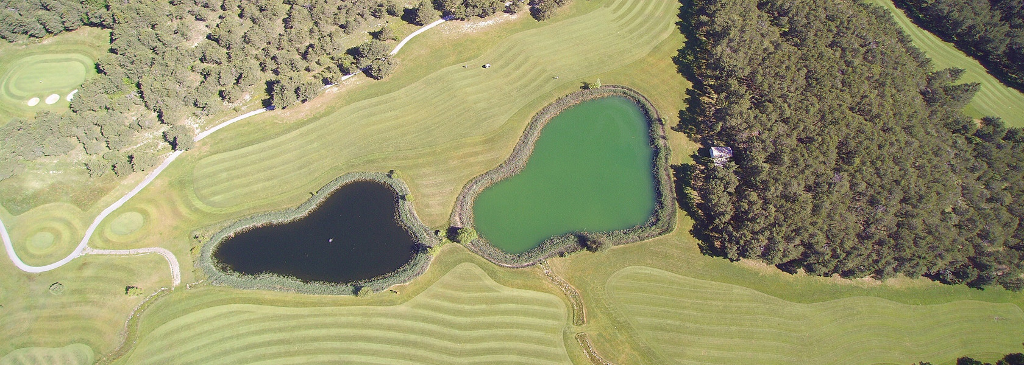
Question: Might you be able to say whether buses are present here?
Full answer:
No, there isn't any bus down there.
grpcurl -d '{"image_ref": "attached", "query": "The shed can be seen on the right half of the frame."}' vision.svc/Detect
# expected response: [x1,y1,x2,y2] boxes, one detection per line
[709,147,733,169]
